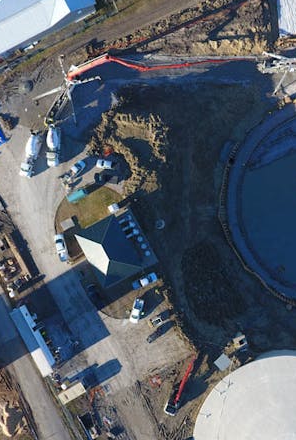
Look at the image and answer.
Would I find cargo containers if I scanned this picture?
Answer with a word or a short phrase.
Yes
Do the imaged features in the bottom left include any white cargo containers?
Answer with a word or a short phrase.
Yes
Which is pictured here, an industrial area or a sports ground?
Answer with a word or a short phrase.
industrial area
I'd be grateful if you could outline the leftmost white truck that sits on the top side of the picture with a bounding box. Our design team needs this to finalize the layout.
[17,130,42,177]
